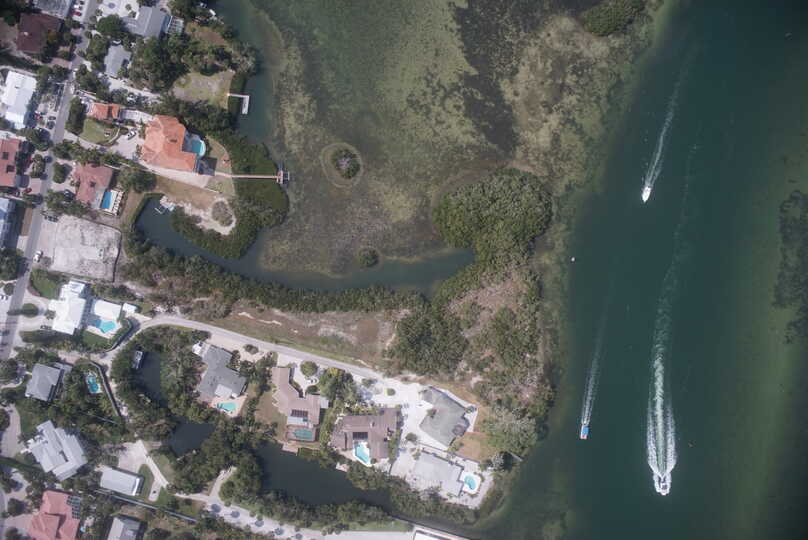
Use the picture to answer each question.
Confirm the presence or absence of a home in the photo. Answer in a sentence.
Yes, a home is visible in the scene.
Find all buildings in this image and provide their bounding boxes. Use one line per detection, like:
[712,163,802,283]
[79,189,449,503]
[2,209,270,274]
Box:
[421,388,469,446]
[331,407,398,458]
[0,197,16,246]
[48,281,89,335]
[271,367,320,425]
[0,138,23,187]
[109,516,142,540]
[105,46,131,78]
[200,345,247,397]
[33,0,77,19]
[142,115,197,171]
[76,163,114,205]
[24,363,62,401]
[26,420,90,480]
[413,452,464,497]
[95,300,123,320]
[17,13,62,57]
[28,489,84,540]
[121,6,166,38]
[100,467,142,496]
[0,71,38,127]
[84,103,121,122]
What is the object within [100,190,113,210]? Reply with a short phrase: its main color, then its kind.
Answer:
blue swimming pool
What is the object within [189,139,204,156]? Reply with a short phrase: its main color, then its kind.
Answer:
blue swimming pool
